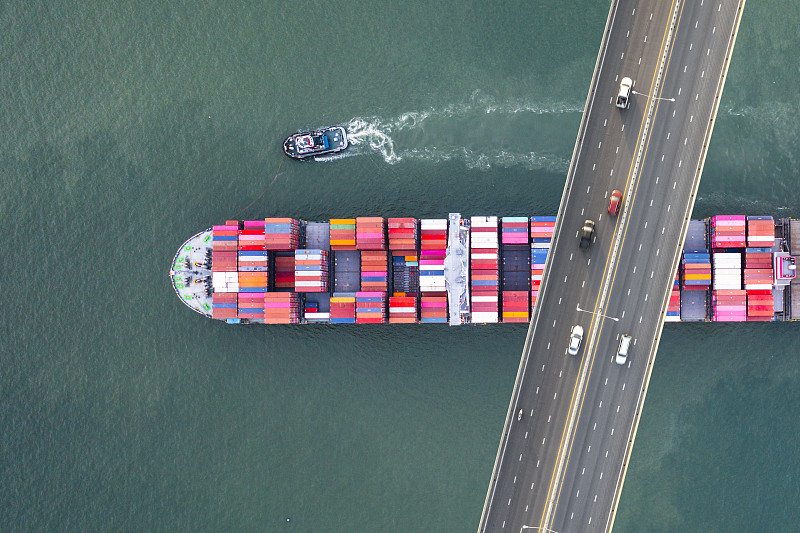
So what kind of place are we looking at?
port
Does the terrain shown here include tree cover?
No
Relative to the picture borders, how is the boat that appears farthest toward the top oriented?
from side to side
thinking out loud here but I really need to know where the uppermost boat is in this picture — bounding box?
[284,125,350,157]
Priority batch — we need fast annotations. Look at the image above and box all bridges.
[477,0,747,533]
